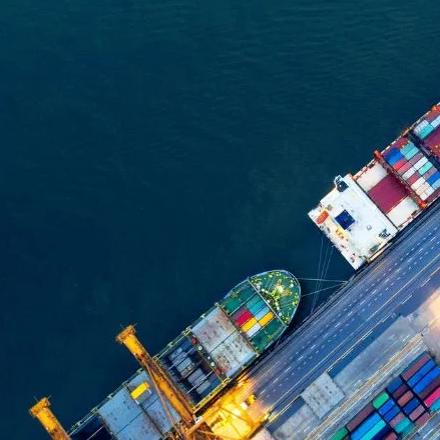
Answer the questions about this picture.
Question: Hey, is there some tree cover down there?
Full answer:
No, the picture contains no tree cover.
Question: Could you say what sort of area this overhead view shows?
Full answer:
What you see here is a port.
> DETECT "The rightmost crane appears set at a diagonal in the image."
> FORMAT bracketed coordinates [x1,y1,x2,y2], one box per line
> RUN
[109,327,277,440]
